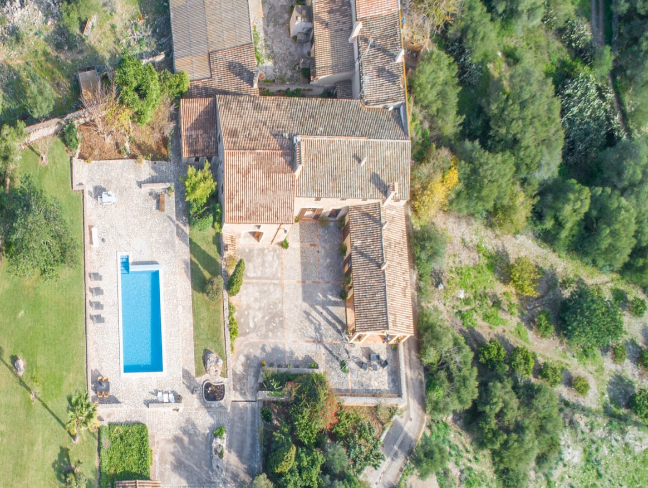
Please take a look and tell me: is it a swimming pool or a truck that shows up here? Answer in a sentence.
The image shows a swimming pool.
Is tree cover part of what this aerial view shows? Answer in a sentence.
Yes, tree cover shows up in the scene.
